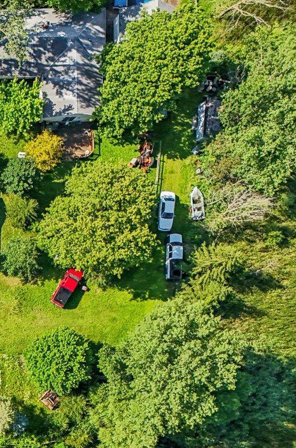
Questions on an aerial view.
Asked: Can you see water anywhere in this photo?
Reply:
No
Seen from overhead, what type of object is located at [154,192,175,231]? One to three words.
car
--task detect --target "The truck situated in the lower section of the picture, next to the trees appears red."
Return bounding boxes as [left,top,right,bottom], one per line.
[49,271,80,310]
